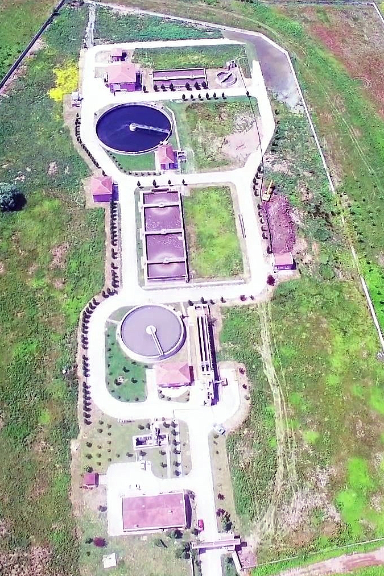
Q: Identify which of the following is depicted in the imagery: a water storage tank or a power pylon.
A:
water storage tank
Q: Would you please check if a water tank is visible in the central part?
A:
Yes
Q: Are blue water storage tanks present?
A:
Yes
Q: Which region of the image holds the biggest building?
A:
bottom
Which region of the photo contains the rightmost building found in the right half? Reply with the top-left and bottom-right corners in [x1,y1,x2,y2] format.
[271,253,292,270]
